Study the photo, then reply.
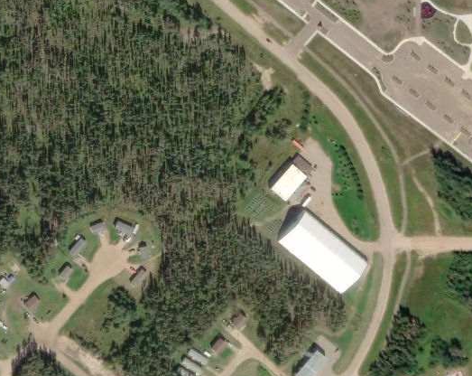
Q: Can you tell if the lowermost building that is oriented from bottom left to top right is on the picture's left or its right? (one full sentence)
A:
It is on the right.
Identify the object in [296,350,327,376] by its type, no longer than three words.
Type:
building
